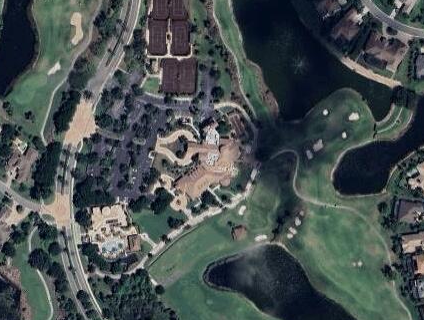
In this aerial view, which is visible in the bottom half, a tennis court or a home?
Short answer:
home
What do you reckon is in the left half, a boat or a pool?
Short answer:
pool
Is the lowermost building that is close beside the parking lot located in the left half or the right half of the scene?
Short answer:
left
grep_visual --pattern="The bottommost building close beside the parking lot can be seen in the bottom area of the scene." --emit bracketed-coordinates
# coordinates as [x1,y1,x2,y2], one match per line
[92,205,128,227]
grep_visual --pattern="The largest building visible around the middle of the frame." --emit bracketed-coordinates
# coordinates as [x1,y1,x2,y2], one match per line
[173,118,243,202]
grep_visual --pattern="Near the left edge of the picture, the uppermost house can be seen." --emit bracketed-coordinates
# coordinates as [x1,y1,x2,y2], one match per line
[0,148,37,182]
